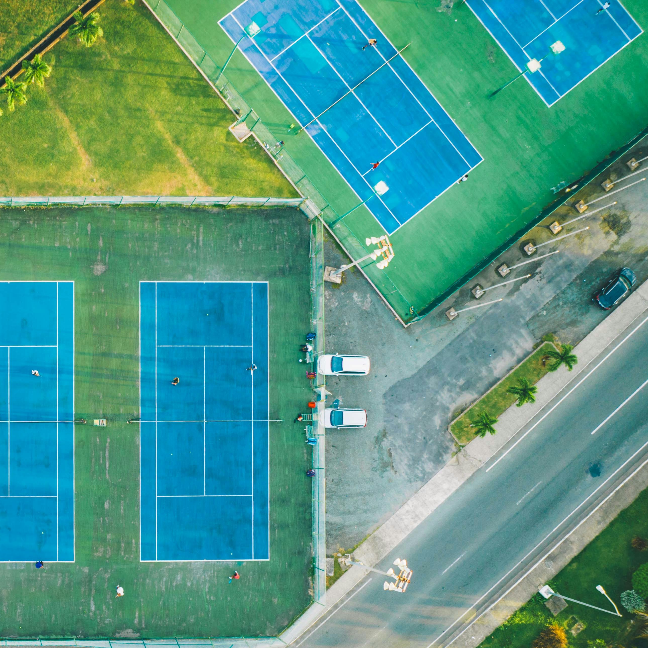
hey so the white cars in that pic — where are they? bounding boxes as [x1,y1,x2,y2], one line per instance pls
[315,351,370,378]
[317,405,369,432]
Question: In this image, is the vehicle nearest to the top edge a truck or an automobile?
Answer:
automobile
